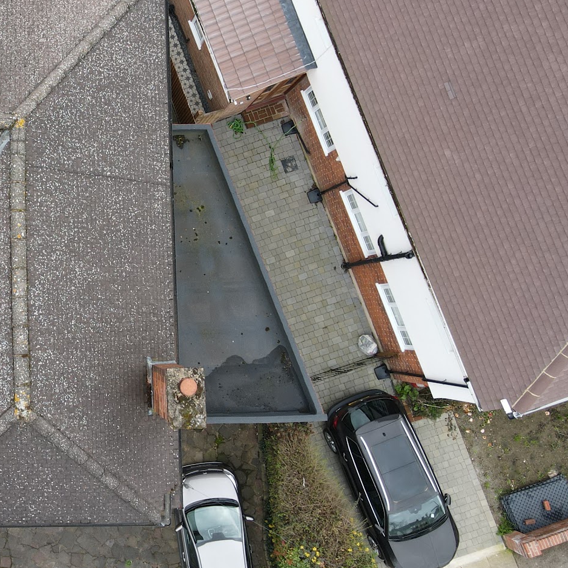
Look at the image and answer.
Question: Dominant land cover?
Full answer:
The bulk of the photo consists of buildings.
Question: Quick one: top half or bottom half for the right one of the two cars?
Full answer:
The right one of the two cars is in the bottom half of the image.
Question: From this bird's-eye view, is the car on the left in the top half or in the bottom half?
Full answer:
Seen from above, the car on the left lies in the bottom half of the view.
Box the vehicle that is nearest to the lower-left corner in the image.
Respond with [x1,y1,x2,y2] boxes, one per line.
[181,459,265,568]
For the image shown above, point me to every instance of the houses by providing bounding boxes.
[0,0,206,539]
[274,0,568,421]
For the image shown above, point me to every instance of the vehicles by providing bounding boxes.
[320,378,464,568]
[181,459,265,568]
